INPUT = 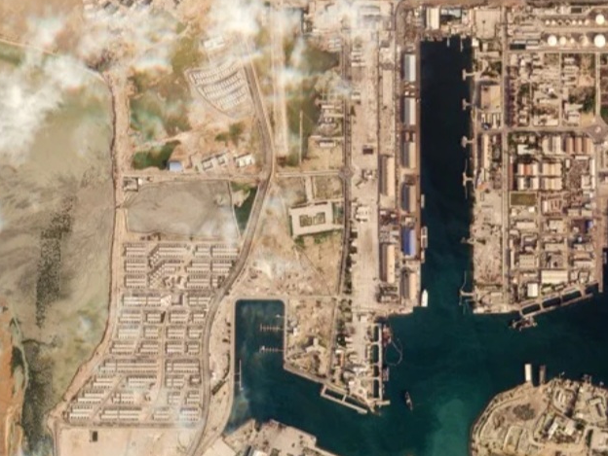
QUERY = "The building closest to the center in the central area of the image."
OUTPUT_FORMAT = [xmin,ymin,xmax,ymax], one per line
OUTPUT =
[291,204,332,233]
